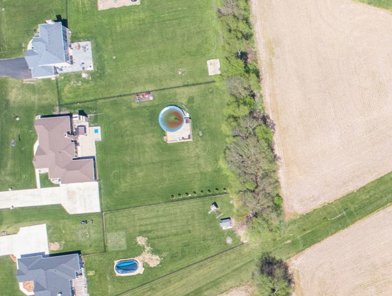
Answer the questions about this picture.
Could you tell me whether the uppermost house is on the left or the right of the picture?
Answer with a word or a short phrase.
left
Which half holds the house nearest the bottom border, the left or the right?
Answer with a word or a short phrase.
left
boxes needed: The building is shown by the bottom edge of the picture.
[16,252,83,296]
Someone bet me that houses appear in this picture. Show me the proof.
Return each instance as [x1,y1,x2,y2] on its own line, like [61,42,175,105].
[26,18,73,78]
[16,252,83,296]
[34,116,98,184]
